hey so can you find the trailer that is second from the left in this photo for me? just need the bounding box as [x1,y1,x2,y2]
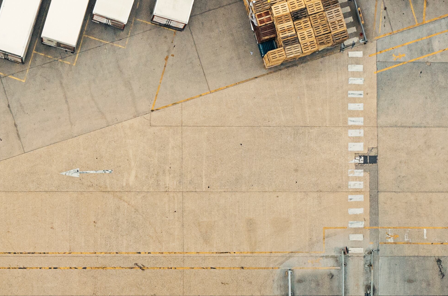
[40,0,90,54]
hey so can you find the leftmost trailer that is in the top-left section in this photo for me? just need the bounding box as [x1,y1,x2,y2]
[0,0,43,66]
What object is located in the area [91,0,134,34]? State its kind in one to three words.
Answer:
trailer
